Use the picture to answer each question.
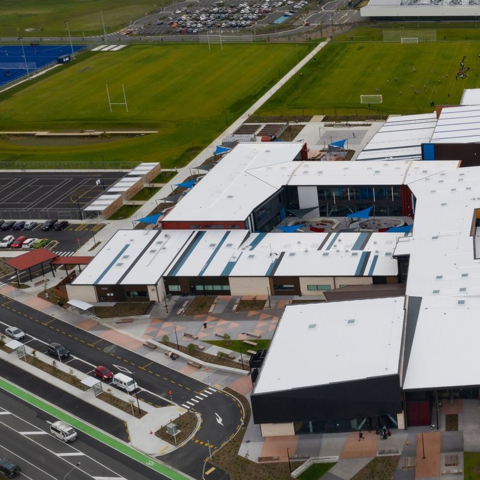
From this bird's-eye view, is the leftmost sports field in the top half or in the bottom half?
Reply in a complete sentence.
The leftmost sports field is in the top half of the image.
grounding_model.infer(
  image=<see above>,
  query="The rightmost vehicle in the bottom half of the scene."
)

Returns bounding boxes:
[110,370,139,391]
